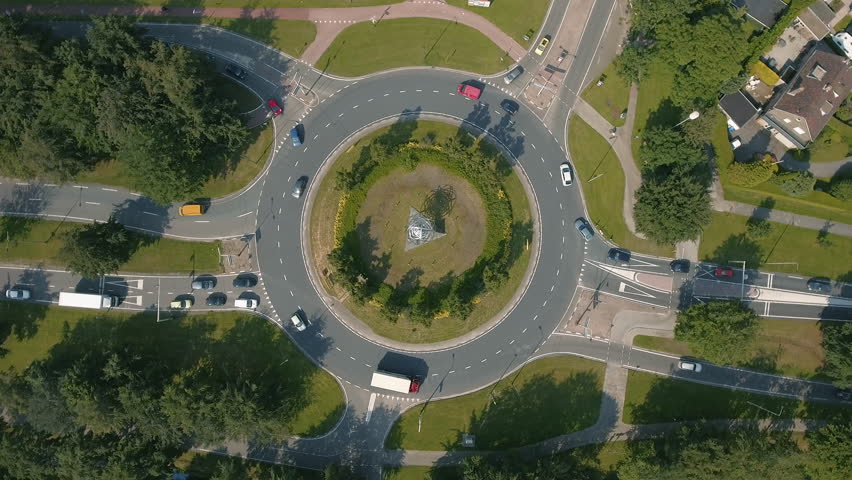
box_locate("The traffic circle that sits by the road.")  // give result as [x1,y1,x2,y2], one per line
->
[257,72,582,396]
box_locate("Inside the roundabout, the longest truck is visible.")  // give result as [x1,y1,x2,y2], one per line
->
[369,370,422,396]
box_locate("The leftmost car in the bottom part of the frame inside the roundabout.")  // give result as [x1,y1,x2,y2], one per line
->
[289,310,308,331]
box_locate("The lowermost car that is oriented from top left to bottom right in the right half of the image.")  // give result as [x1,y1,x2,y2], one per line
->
[573,218,594,240]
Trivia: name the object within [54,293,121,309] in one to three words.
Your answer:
vehicle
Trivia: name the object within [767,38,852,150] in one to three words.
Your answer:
house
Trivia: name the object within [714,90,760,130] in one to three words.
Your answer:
building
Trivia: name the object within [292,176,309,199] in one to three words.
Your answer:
car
